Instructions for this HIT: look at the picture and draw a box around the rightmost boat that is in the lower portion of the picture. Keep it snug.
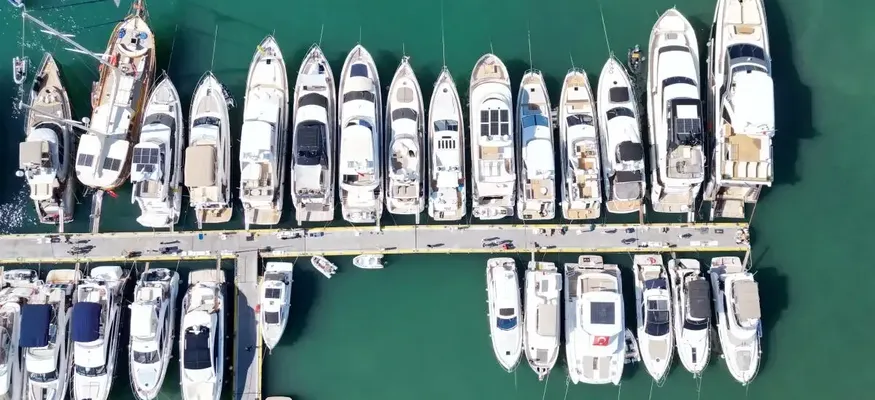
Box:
[708,251,763,400]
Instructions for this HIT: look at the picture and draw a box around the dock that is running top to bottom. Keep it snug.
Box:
[233,260,264,400]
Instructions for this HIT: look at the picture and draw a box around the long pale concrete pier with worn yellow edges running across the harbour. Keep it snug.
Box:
[0,224,750,264]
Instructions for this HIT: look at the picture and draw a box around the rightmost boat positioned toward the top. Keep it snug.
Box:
[694,0,780,222]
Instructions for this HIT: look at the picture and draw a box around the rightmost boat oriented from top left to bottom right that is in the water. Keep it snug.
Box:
[312,259,337,279]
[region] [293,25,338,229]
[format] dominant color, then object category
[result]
white boat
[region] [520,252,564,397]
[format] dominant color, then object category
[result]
white boat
